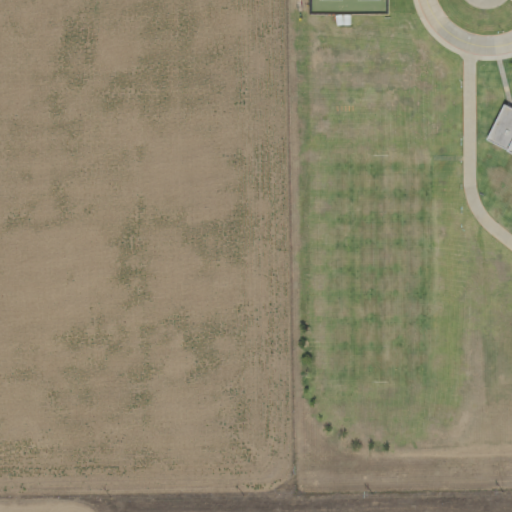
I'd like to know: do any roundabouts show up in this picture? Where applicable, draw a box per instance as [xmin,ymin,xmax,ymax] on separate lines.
[412,0,512,68]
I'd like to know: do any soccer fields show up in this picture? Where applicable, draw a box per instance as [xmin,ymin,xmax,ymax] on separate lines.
[312,155,448,381]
